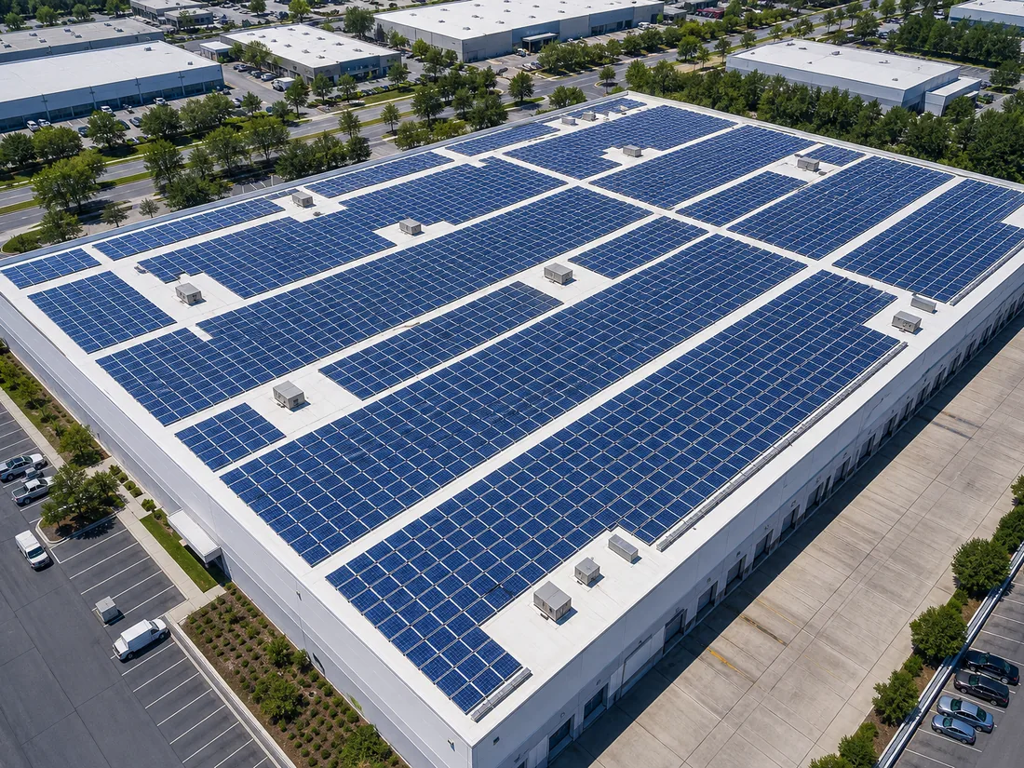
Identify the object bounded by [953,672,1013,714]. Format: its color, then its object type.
black car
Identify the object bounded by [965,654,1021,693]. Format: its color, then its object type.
black car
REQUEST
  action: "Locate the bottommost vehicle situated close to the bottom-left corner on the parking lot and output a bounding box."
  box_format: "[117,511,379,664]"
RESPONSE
[113,615,175,659]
